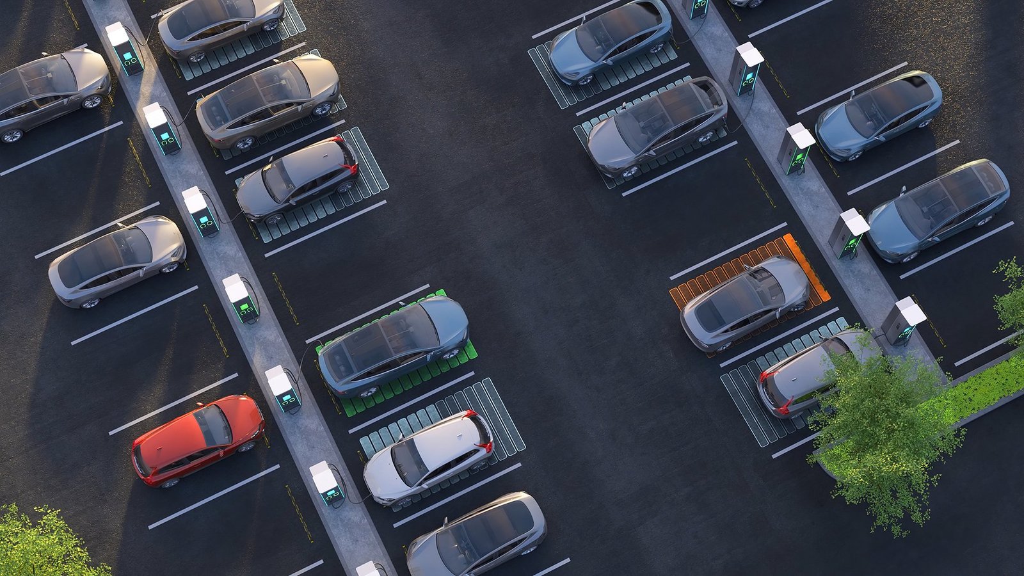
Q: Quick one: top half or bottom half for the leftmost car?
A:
top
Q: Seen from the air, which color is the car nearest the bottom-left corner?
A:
red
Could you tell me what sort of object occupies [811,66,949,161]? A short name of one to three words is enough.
car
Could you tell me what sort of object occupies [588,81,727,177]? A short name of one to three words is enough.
car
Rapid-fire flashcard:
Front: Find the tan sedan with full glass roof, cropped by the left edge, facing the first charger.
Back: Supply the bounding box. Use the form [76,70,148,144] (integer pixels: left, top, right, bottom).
[0,51,111,142]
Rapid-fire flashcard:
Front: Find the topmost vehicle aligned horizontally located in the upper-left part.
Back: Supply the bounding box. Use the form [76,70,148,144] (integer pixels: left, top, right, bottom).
[151,0,290,62]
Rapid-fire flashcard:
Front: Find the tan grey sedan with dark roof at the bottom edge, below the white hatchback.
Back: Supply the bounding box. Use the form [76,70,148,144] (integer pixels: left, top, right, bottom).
[401,487,555,576]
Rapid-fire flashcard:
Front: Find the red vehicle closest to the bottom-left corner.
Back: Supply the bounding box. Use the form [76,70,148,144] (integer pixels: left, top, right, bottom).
[127,393,266,489]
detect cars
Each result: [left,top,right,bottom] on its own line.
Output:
[321,297,470,396]
[151,0,290,62]
[127,393,266,489]
[401,487,555,576]
[0,51,111,142]
[674,252,817,352]
[726,0,761,8]
[42,213,191,309]
[362,408,498,507]
[200,57,341,148]
[868,163,1008,262]
[236,134,364,225]
[588,81,727,177]
[544,0,679,86]
[811,66,949,161]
